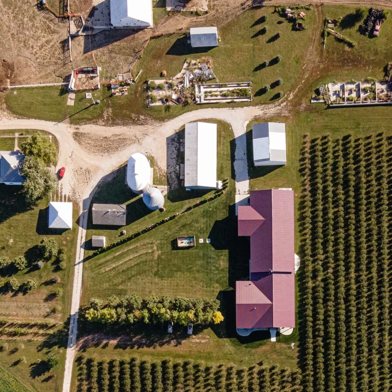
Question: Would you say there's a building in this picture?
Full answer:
Yes, I can see a building in this picture.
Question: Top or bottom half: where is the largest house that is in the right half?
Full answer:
You can find the largest house that is in the right half in the bottom half.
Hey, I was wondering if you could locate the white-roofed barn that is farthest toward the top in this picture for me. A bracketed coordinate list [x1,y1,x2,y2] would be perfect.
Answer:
[110,0,154,31]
